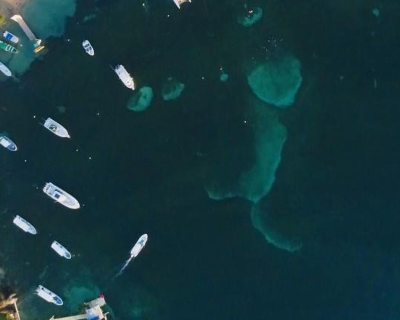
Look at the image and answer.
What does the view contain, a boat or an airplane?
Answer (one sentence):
Looking from above, you can make out a boat.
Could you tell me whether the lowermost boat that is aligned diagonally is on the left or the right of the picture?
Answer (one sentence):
The lowermost boat that is aligned diagonally is on the left side of the image.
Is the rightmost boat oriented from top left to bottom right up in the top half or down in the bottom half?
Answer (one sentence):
Seen from above, the rightmost boat oriented from top left to bottom right lies in the top half of the view.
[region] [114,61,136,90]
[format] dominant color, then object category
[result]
white boat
